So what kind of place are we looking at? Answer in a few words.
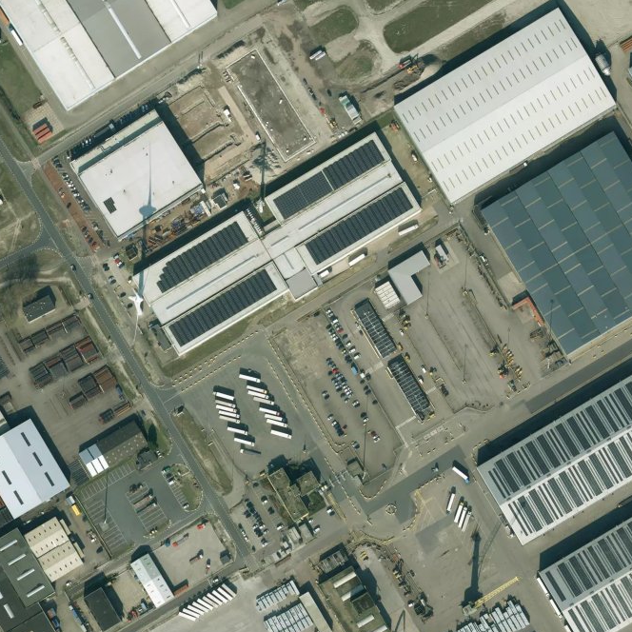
industrial area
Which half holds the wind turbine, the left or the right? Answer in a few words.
left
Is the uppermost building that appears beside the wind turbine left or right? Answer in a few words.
left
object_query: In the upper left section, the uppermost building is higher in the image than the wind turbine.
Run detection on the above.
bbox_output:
[0,0,218,113]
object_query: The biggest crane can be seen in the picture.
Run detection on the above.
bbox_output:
[458,581,521,620]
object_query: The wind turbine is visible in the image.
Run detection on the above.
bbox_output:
[125,259,145,326]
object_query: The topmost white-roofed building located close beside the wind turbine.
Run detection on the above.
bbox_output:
[70,109,202,240]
